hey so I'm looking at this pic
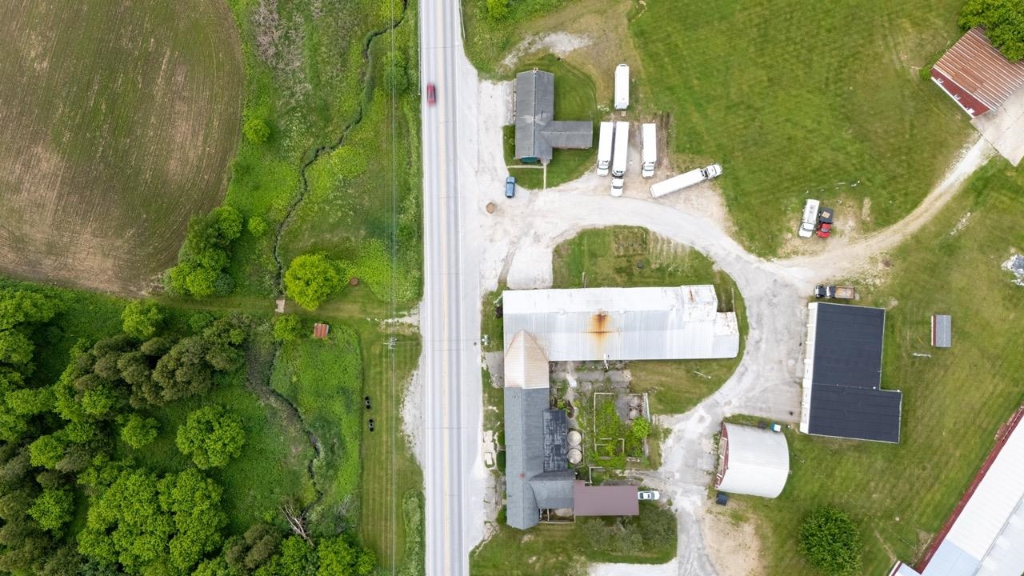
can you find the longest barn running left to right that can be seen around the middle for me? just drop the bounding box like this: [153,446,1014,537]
[503,286,738,369]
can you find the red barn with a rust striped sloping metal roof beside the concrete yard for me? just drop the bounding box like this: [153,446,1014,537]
[930,28,1024,117]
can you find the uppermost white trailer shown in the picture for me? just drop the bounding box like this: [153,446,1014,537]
[613,66,628,114]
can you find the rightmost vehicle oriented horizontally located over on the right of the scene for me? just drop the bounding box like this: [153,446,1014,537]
[818,285,855,299]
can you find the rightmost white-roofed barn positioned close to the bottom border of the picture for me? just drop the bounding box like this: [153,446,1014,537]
[916,399,1024,576]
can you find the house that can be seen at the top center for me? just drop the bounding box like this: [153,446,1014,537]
[515,69,593,166]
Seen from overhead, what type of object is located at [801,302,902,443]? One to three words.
building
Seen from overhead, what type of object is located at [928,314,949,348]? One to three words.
shed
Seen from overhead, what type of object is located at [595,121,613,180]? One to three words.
vehicle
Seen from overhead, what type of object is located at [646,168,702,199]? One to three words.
trailer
